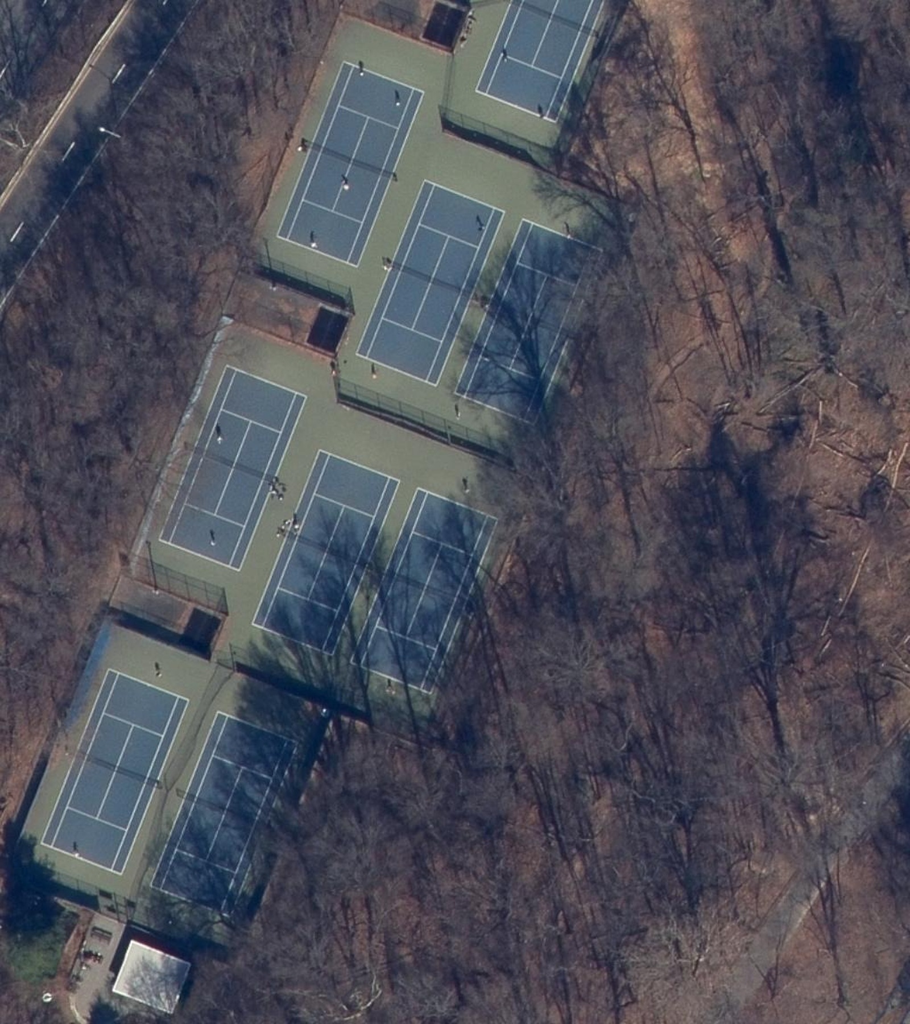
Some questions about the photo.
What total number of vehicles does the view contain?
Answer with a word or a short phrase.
0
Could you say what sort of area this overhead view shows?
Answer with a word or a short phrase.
sports ground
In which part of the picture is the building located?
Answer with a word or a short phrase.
bottom left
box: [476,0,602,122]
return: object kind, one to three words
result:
tennis court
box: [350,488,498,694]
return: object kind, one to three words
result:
tennis court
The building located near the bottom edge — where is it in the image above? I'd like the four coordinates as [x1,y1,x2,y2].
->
[112,941,189,1014]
